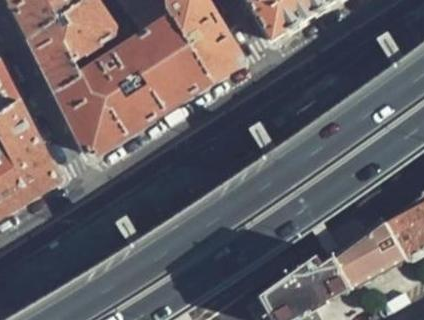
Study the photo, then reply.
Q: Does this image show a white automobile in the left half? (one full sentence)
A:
Yes, a white automobile shows up in the left half.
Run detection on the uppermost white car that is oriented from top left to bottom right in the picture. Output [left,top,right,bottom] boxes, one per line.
[232,28,246,44]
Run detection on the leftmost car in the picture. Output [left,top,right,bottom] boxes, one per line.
[0,216,20,234]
